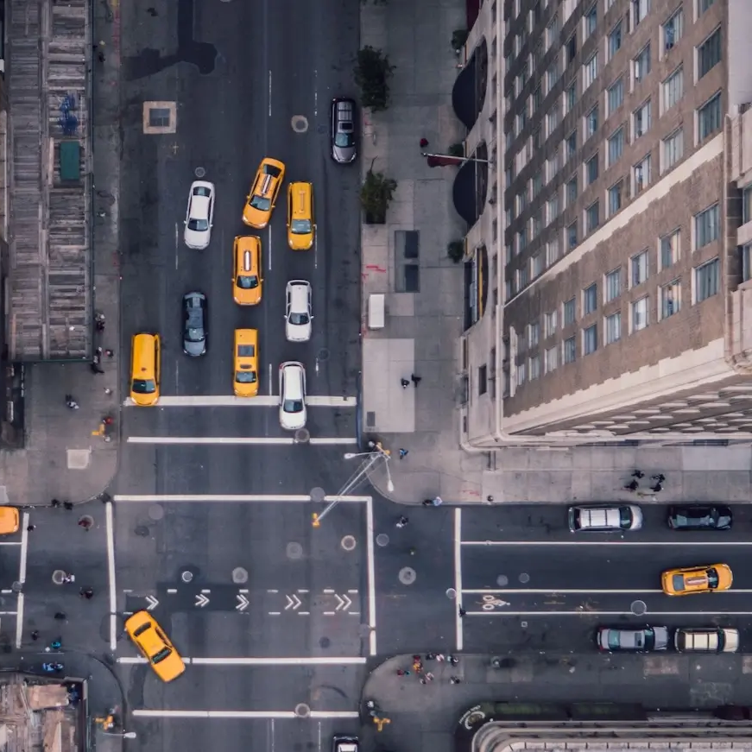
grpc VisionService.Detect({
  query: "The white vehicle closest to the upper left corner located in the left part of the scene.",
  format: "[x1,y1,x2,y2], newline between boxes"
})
[182,180,216,252]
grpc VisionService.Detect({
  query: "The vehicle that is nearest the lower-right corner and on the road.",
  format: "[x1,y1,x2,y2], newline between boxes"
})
[670,624,739,656]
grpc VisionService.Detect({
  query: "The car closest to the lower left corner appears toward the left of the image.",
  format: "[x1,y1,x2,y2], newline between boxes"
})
[129,609,182,681]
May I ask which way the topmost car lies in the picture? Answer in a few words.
vertically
